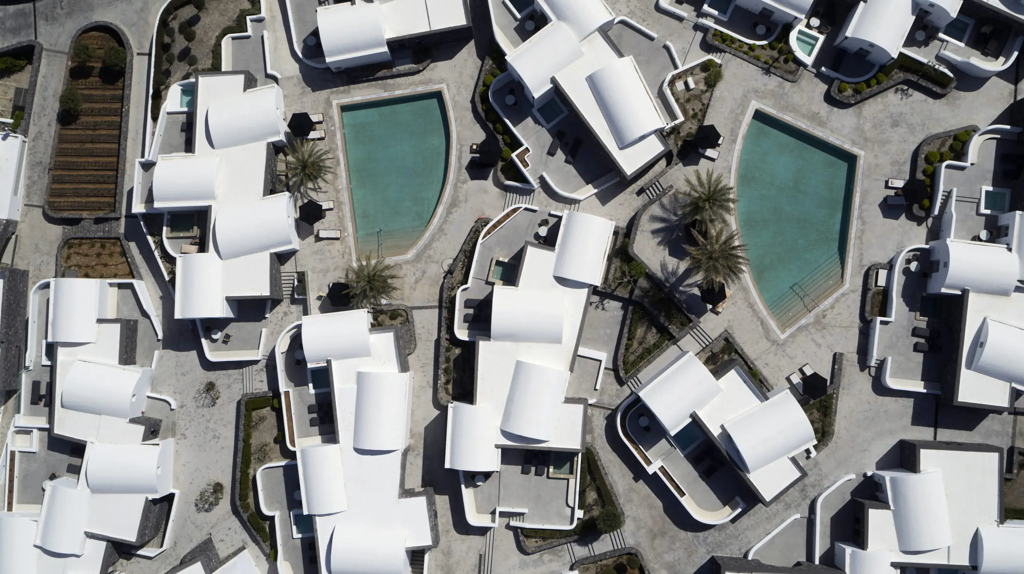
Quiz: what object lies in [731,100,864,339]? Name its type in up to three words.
swimming pool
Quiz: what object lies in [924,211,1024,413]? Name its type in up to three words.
house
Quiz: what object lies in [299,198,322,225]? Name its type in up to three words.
umbrella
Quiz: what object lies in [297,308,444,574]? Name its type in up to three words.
house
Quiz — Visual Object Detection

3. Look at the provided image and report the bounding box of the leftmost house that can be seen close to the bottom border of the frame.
[0,439,177,574]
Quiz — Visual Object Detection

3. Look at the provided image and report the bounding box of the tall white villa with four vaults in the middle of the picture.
[445,211,615,472]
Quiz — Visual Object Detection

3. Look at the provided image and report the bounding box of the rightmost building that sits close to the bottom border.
[831,436,1024,574]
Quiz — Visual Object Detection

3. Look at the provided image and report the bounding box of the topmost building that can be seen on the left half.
[317,0,474,71]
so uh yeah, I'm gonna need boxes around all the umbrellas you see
[479,141,505,165]
[287,113,314,137]
[699,281,725,307]
[899,178,928,205]
[328,284,354,308]
[299,198,322,225]
[801,372,826,400]
[692,125,720,151]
